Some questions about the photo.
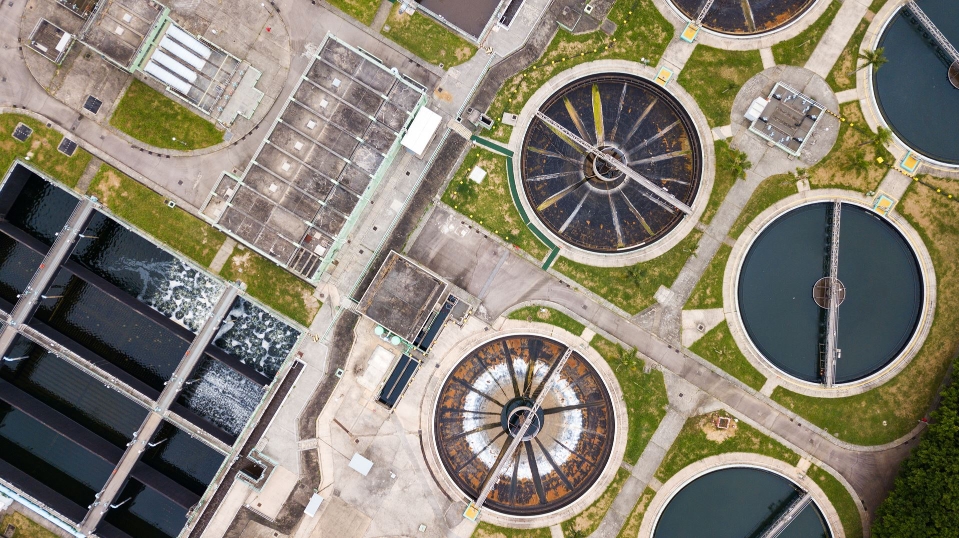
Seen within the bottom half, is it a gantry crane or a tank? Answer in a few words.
tank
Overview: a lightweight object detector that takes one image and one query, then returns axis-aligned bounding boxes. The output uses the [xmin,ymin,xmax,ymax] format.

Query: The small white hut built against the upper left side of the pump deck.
[741,97,770,124]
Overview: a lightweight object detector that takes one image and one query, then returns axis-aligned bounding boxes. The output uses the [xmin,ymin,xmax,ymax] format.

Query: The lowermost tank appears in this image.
[637,452,848,538]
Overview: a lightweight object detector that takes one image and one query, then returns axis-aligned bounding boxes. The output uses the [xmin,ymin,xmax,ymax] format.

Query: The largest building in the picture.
[198,31,429,284]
